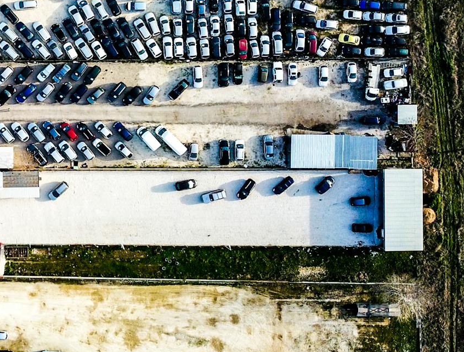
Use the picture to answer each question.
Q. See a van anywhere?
Yes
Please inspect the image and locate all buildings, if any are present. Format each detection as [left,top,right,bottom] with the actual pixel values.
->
[376,169,424,251]
[286,135,377,171]
[390,105,418,125]
[0,147,13,169]
[0,172,42,199]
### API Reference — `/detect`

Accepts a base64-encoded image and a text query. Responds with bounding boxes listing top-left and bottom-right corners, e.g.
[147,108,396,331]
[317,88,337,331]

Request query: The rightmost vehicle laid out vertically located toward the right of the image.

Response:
[362,62,380,102]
